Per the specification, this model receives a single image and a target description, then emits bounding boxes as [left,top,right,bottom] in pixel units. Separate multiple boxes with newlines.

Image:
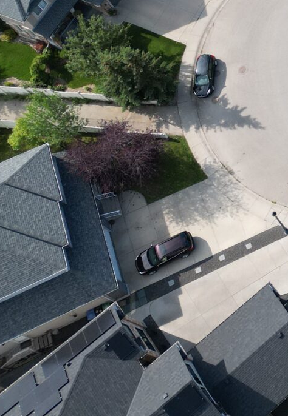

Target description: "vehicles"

[189,53,215,98]
[134,235,195,281]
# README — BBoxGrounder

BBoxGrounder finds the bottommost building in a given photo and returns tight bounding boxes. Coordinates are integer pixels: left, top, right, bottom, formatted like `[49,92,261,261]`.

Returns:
[0,282,288,416]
